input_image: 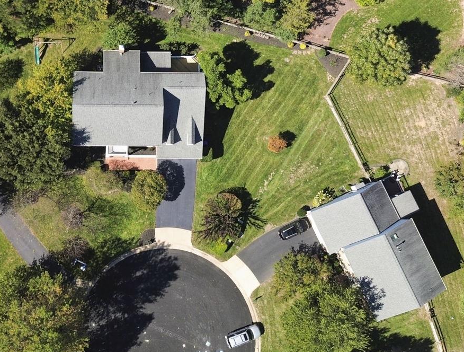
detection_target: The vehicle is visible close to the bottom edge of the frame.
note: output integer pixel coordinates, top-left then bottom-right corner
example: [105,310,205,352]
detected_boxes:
[226,325,263,348]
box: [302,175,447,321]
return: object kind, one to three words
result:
house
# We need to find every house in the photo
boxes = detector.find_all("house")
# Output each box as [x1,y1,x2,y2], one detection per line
[72,46,207,160]
[302,175,447,321]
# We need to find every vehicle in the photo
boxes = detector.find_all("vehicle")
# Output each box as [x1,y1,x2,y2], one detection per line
[226,325,263,348]
[276,218,311,241]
